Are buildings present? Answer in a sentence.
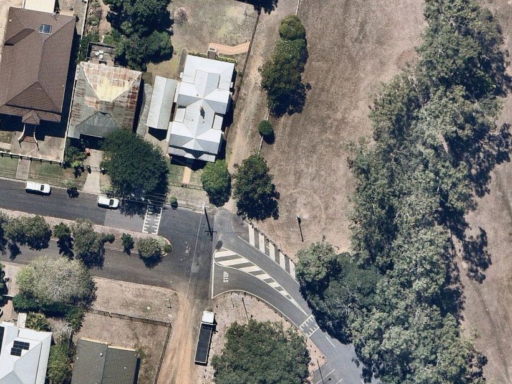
Yes, there's a building down there.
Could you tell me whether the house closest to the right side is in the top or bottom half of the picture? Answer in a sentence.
It is in the top half that the house closest to the right side appears.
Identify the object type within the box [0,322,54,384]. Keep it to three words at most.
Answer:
house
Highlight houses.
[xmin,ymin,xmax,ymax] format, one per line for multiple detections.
[71,337,138,384]
[0,322,54,384]
[67,61,143,139]
[0,6,76,151]
[166,55,235,163]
